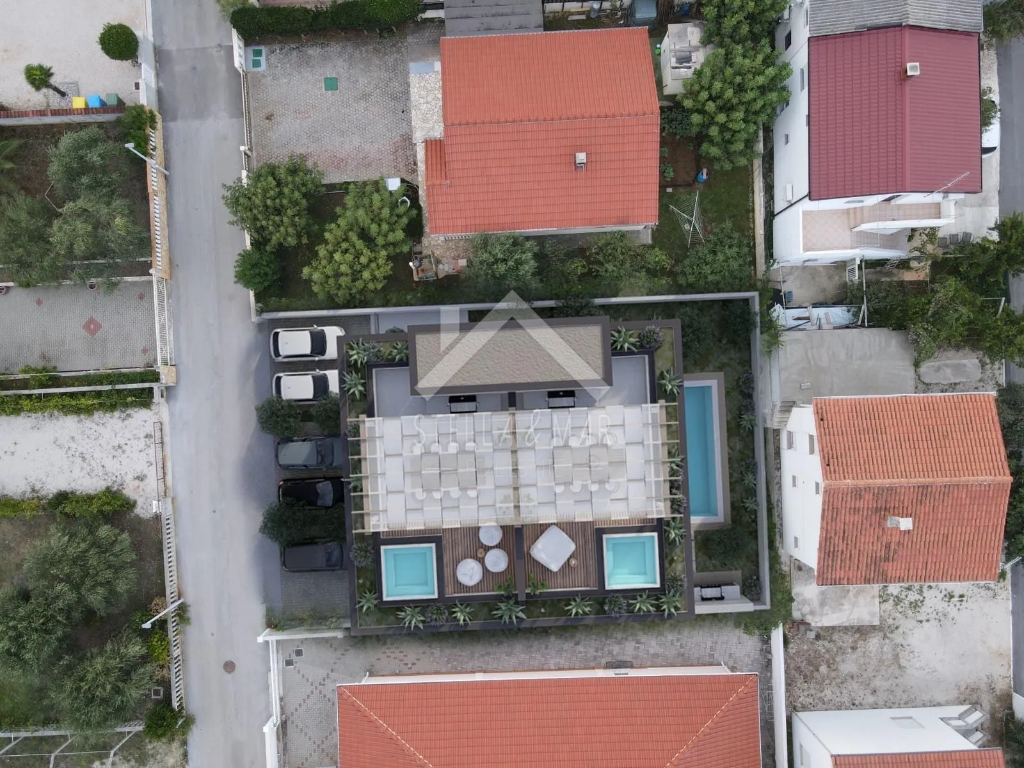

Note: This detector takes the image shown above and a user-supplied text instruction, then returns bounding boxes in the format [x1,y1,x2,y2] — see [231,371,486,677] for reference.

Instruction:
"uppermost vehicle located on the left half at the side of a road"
[273,325,347,361]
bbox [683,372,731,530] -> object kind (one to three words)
swimming pool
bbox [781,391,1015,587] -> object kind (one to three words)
house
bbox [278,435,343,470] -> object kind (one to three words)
car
